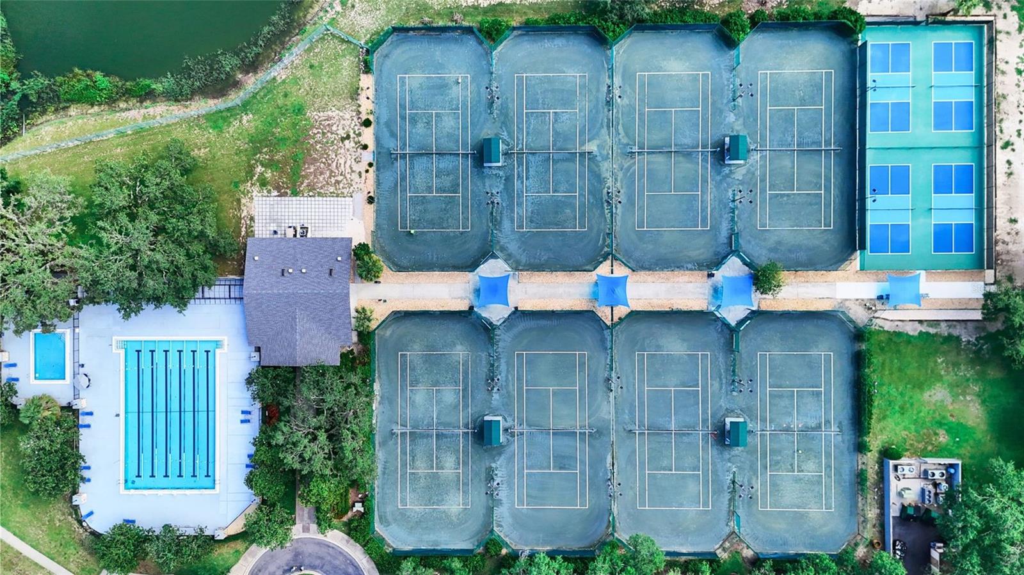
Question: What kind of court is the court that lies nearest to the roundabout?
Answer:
tennis court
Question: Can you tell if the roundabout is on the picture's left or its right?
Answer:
left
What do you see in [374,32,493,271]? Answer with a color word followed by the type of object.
blue tennis court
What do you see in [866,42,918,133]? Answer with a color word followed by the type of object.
blue sports court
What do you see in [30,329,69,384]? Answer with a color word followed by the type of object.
blue swimming pool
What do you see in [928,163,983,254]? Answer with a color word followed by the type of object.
blue sports court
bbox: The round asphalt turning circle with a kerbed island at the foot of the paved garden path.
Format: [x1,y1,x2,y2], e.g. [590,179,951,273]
[233,522,378,575]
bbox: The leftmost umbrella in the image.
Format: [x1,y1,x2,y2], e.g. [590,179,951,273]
[73,373,90,388]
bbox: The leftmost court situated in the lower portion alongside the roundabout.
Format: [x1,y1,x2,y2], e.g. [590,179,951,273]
[375,311,493,548]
